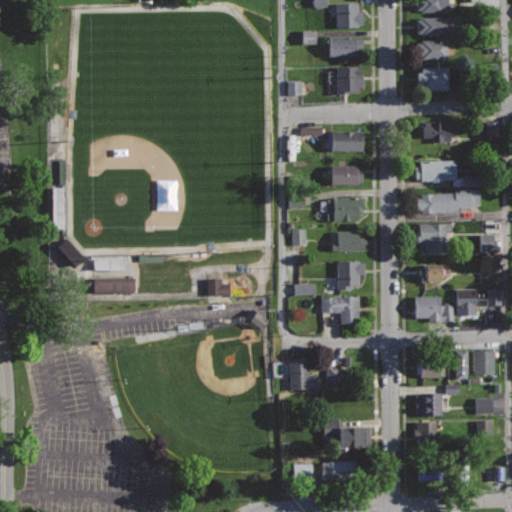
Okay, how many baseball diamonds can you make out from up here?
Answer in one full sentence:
In total, there are 2 baseball diamonds in the scene.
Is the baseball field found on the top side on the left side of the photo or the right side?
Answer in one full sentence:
The baseball field found on the top side sits on the left side.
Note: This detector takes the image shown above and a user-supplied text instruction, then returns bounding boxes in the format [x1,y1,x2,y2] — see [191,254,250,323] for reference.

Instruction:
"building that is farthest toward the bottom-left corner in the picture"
[94,279,135,294]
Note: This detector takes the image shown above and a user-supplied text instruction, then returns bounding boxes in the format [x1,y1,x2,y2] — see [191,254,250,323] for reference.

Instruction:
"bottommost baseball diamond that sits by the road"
[116,328,271,472]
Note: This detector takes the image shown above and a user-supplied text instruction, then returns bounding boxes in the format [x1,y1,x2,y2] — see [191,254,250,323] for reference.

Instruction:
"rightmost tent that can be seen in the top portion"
[157,180,179,212]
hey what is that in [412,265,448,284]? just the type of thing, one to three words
house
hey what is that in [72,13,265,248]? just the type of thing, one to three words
baseball field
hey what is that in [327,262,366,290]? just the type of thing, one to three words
house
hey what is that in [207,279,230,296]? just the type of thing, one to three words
building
